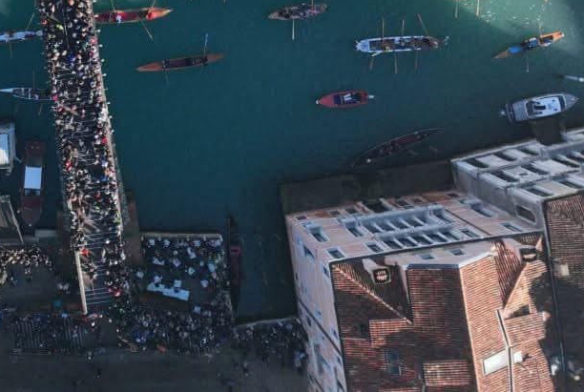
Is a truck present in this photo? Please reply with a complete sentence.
No, no truck is visible in the view.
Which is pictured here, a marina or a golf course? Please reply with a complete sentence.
The picture captures a marina.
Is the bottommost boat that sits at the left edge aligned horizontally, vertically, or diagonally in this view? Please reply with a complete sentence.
The bottommost boat that sits at the left edge is laid out vertically.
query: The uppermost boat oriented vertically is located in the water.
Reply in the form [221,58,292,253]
[22,141,43,227]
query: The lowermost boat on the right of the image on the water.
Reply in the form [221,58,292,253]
[351,129,450,173]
